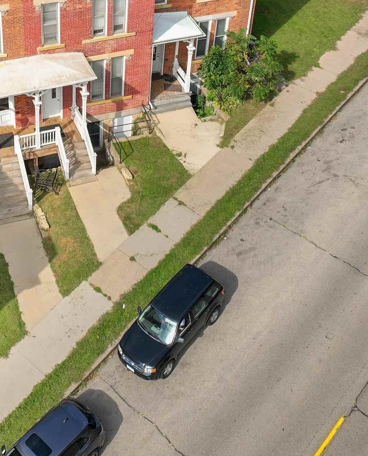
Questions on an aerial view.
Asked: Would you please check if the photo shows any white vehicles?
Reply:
No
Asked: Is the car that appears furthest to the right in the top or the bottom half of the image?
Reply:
bottom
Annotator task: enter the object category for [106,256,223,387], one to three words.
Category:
car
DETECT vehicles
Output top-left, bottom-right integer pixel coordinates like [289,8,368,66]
[106,256,223,387]
[0,386,106,456]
